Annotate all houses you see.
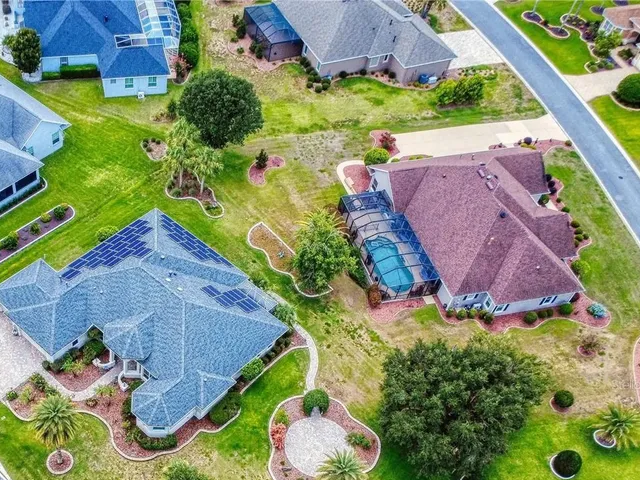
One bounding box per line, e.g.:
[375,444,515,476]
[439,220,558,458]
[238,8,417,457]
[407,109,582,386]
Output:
[272,0,458,84]
[23,0,172,95]
[0,75,72,208]
[597,1,640,71]
[0,208,289,436]
[365,150,586,316]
